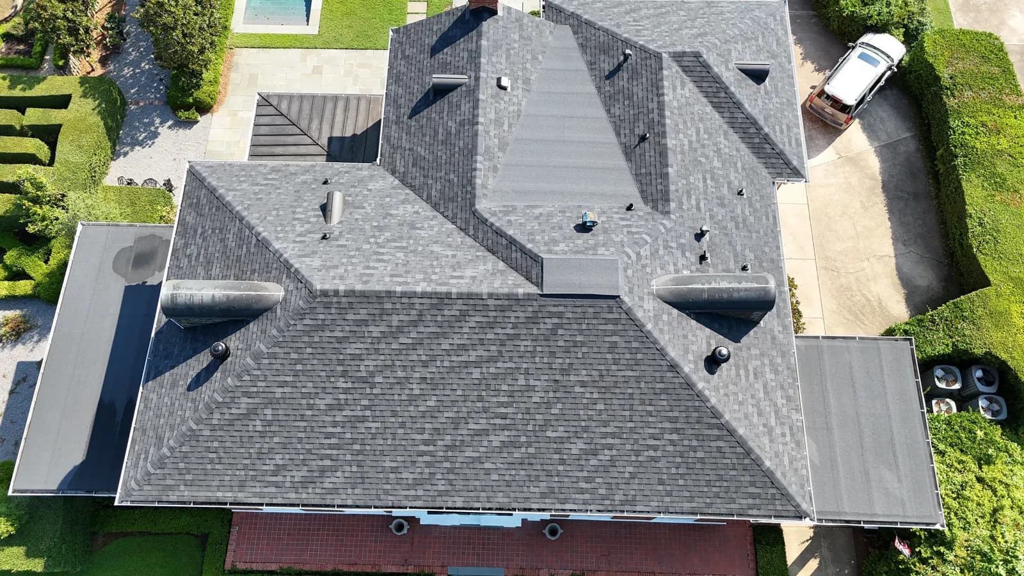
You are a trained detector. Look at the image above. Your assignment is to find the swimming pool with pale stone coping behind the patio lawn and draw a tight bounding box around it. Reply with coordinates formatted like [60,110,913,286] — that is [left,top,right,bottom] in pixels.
[235,0,327,36]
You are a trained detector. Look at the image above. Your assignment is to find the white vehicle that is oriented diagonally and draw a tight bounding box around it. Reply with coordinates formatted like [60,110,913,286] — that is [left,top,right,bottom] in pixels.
[802,36,911,140]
